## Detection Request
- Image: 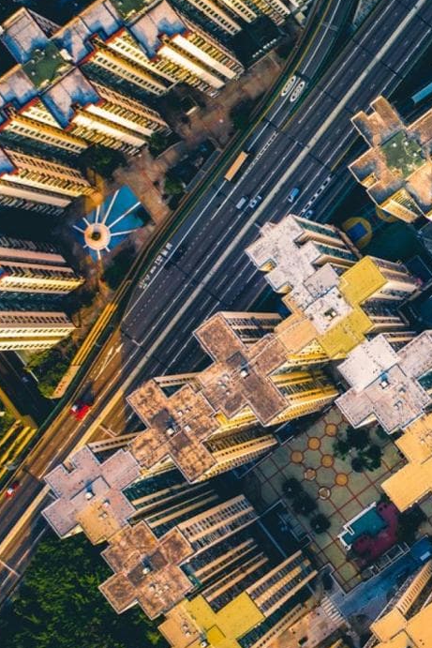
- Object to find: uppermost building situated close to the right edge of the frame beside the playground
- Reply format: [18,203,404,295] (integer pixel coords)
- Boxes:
[347,97,432,223]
